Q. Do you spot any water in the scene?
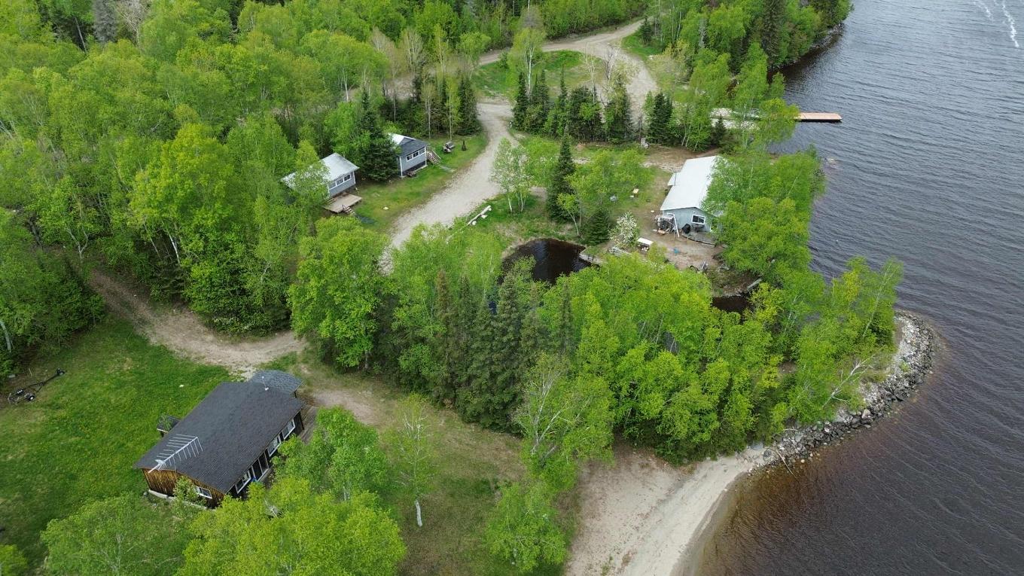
Yes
